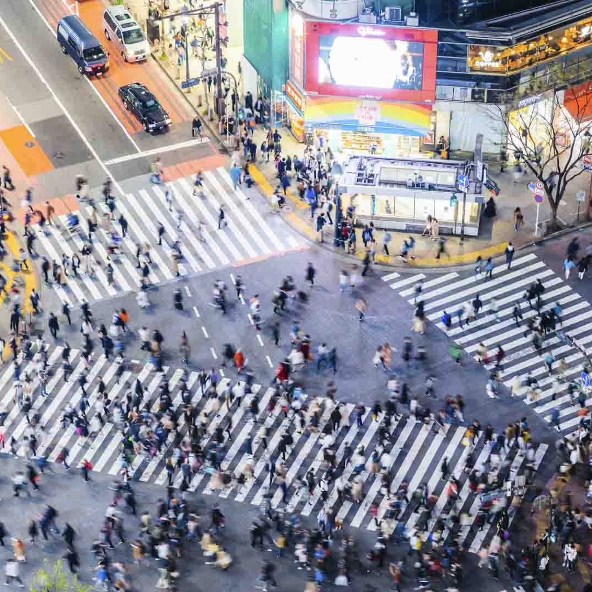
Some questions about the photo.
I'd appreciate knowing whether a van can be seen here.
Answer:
Yes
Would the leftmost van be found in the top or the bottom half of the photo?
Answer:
top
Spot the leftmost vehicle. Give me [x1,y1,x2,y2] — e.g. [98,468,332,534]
[54,8,110,77]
